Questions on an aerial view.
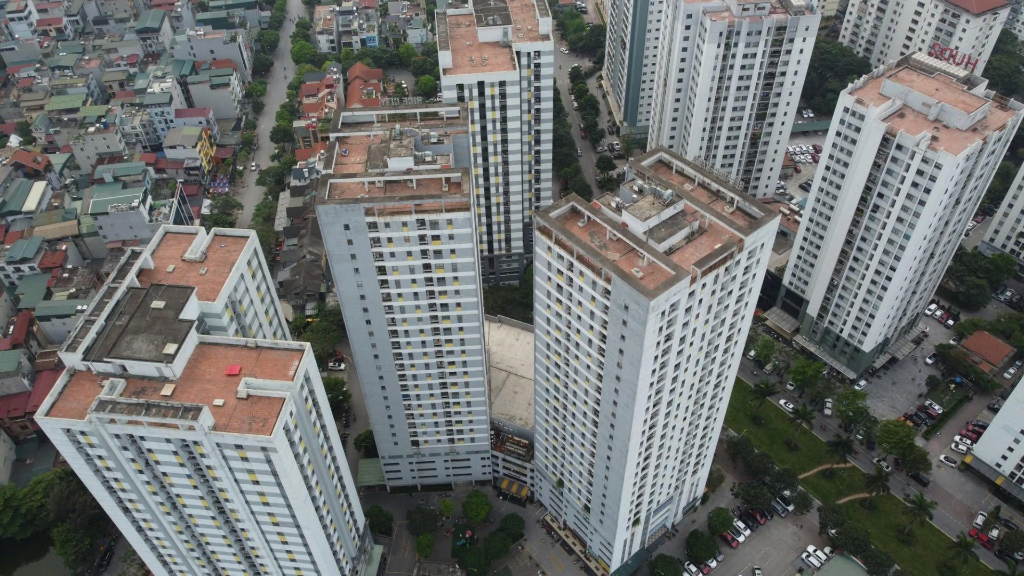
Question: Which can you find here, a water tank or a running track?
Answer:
water tank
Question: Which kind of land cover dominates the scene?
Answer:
buildings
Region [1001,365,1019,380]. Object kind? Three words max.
car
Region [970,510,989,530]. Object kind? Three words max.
car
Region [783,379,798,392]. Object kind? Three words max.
vehicle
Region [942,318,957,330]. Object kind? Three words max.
vehicle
